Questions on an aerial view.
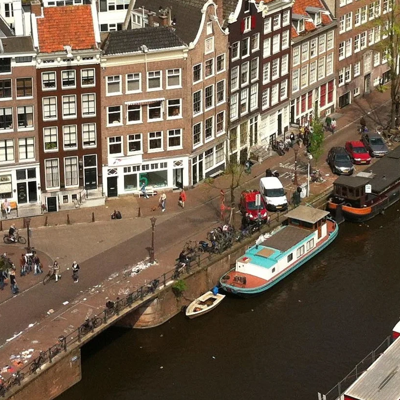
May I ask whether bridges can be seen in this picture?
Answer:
Yes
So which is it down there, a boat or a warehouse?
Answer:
boat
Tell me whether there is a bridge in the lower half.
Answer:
Yes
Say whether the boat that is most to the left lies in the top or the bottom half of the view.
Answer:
bottom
